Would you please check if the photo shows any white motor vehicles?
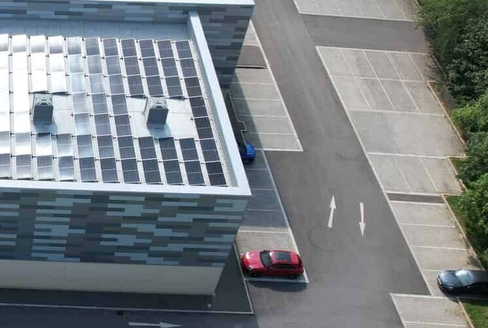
No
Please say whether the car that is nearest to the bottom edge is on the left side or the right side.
right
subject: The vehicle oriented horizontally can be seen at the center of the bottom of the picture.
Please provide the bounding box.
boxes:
[240,250,308,279]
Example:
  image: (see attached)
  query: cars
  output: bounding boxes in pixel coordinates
[240,250,308,279]
[238,143,259,163]
[444,267,488,296]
